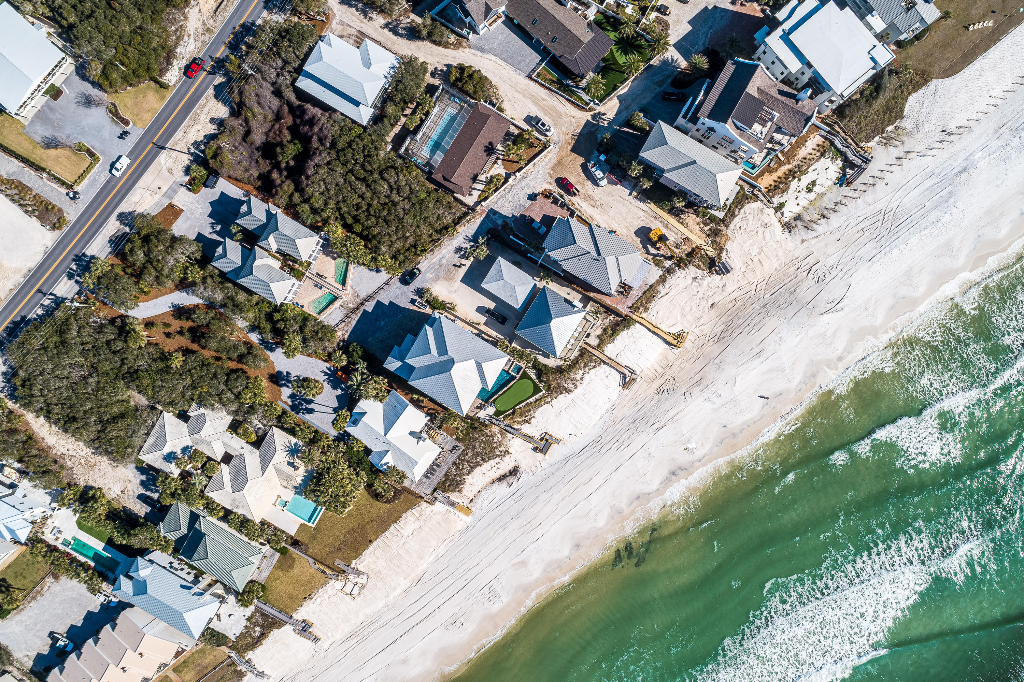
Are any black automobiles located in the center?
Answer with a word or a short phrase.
Yes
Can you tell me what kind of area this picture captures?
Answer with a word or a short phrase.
residential area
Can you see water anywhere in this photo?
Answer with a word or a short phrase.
Yes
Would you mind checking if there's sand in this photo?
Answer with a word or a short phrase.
Yes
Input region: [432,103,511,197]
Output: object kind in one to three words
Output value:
house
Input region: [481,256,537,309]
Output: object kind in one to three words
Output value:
building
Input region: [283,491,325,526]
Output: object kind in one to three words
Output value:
swimming pool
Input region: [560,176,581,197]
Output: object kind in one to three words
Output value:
truck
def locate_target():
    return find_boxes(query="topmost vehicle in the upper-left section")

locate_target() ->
[184,54,204,78]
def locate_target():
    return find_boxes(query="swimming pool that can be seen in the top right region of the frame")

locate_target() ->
[738,159,763,175]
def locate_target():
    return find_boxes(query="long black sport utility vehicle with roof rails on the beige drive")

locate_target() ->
[485,307,508,325]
